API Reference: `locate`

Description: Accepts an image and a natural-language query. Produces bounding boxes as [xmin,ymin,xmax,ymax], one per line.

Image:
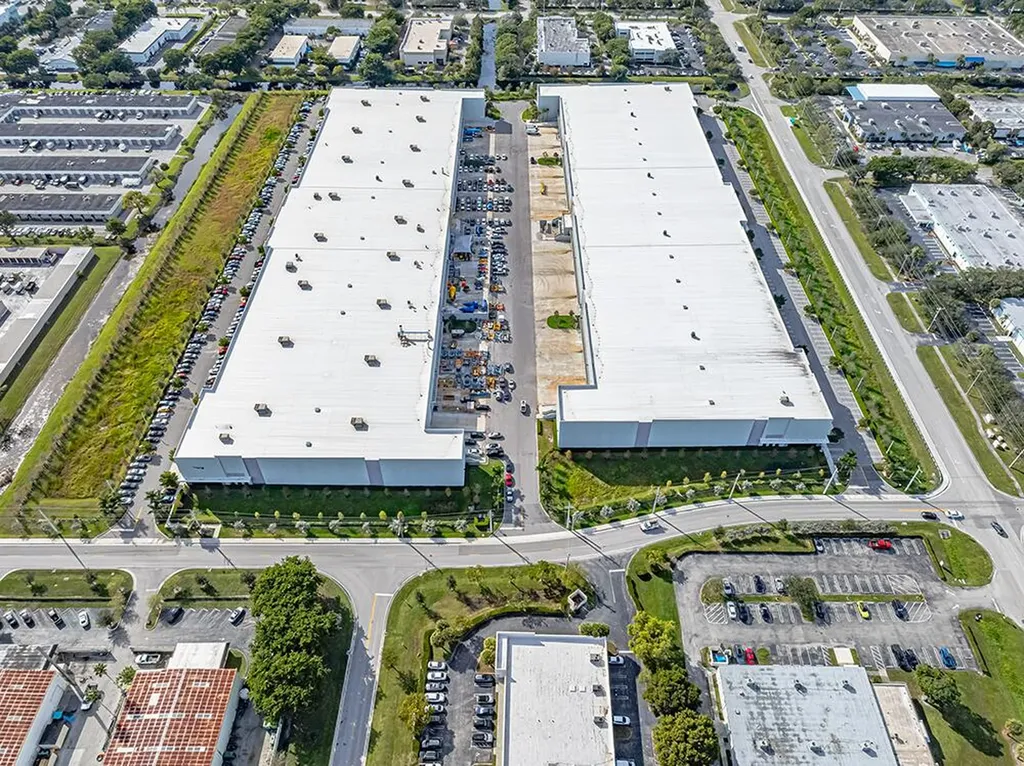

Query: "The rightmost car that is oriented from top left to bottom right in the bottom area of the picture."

[990,521,1007,535]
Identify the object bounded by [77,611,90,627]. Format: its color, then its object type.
white vehicle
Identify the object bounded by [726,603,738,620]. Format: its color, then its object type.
white vehicle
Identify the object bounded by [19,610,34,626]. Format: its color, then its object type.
gray car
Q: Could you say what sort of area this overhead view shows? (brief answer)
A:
industrial area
